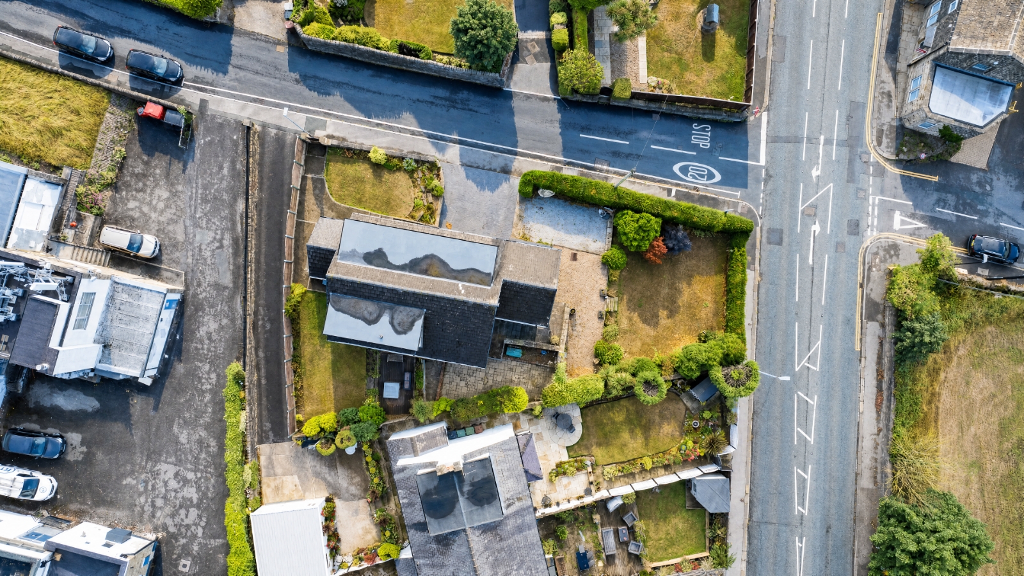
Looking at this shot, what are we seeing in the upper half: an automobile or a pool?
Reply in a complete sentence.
The one visible in the upper half is an automobile.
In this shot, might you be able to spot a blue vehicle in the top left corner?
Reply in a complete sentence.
Yes, there is a blue vehicle in the top left corner.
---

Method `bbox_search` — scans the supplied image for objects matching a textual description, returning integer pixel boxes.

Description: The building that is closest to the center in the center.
[307,212,561,368]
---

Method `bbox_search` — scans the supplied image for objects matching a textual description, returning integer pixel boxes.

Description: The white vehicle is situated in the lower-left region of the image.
[0,461,64,501]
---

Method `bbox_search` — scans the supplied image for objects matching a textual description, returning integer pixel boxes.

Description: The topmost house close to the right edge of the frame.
[898,0,1024,137]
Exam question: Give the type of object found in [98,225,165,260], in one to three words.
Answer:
car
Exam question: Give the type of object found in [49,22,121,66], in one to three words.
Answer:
car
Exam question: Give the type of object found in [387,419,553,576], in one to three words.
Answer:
house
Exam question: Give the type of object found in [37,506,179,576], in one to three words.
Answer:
building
